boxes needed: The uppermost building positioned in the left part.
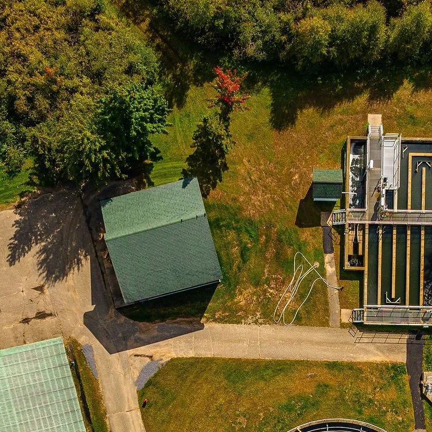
[100,177,222,304]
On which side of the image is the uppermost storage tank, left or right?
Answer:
right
